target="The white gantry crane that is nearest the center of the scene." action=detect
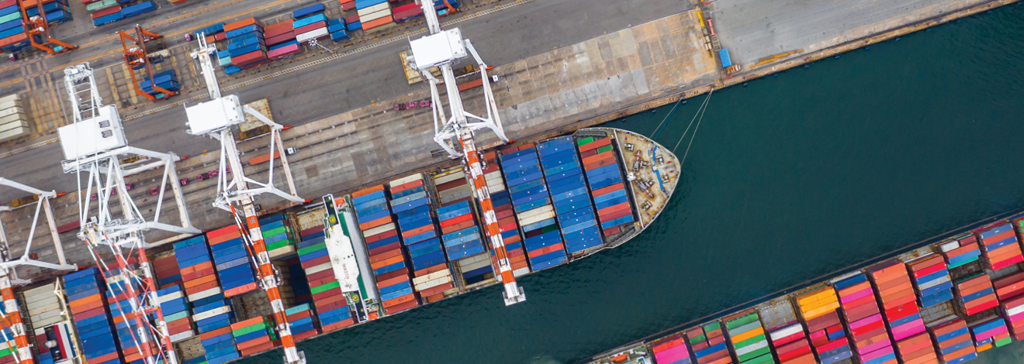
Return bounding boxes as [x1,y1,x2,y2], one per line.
[403,0,527,306]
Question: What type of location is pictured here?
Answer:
port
